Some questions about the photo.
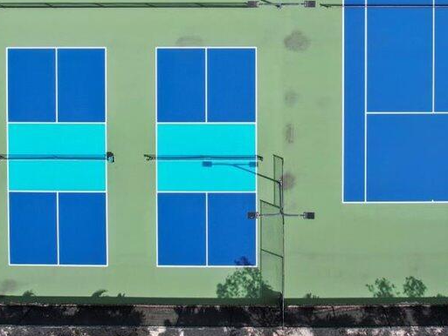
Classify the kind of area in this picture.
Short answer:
sports ground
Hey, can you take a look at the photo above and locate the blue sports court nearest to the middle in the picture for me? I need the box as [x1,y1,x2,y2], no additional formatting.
[155,47,257,268]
